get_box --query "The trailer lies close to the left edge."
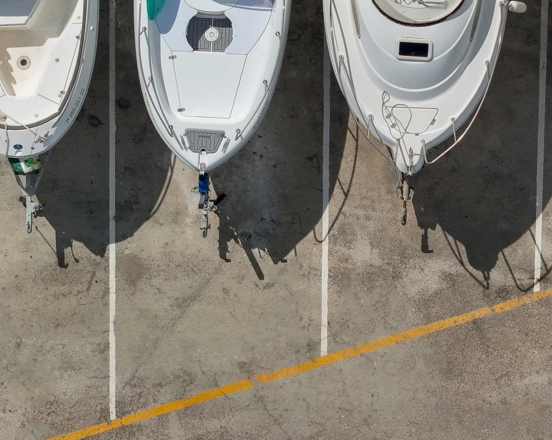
[6,151,52,248]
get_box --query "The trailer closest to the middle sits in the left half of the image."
[188,169,224,238]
